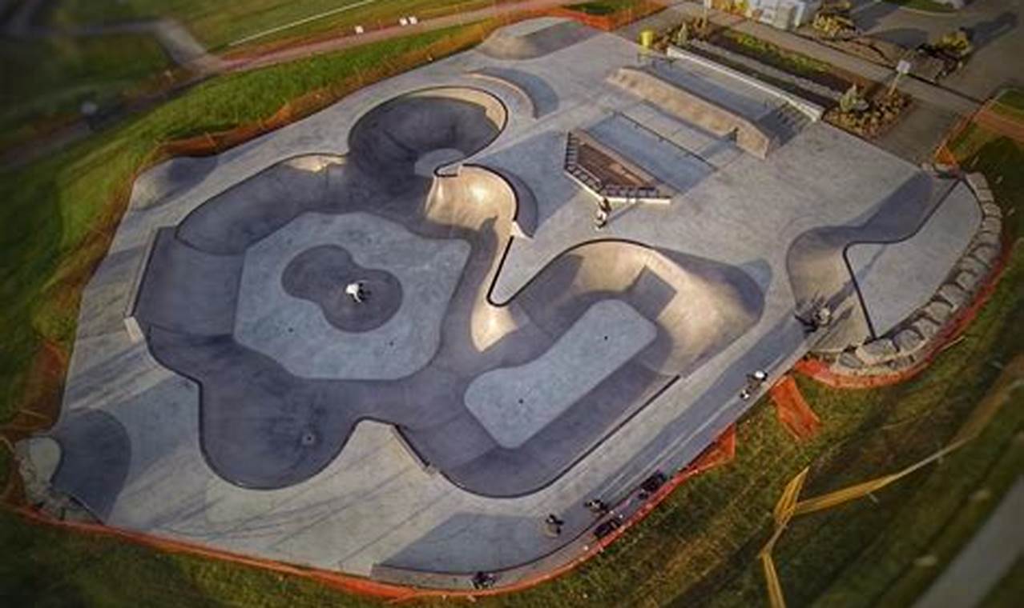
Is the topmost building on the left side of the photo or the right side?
right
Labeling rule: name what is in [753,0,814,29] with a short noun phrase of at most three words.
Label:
building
